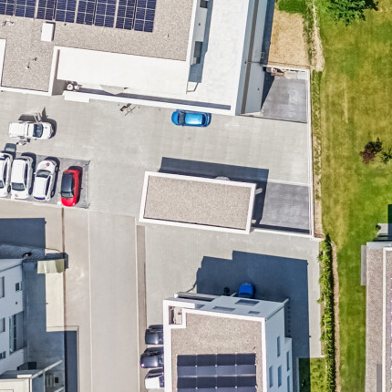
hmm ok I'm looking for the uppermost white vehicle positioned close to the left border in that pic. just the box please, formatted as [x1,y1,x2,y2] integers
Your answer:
[7,113,58,148]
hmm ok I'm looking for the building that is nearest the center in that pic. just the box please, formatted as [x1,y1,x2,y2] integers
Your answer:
[139,169,267,234]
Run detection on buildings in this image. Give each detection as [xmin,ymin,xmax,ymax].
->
[139,169,267,234]
[361,232,392,392]
[0,259,66,392]
[163,284,300,392]
[0,0,270,114]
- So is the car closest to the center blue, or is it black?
blue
